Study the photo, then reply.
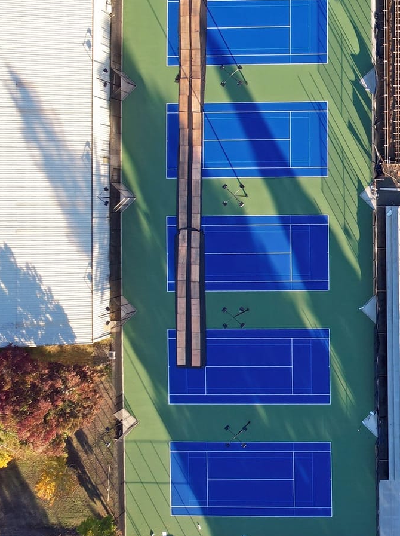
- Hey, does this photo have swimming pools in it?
No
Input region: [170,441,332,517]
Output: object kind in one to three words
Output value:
tennis court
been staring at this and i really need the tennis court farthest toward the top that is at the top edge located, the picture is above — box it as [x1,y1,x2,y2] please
[167,0,328,65]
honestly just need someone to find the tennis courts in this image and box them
[166,100,328,179]
[168,328,331,405]
[167,0,328,65]
[167,215,329,292]
[170,441,332,517]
